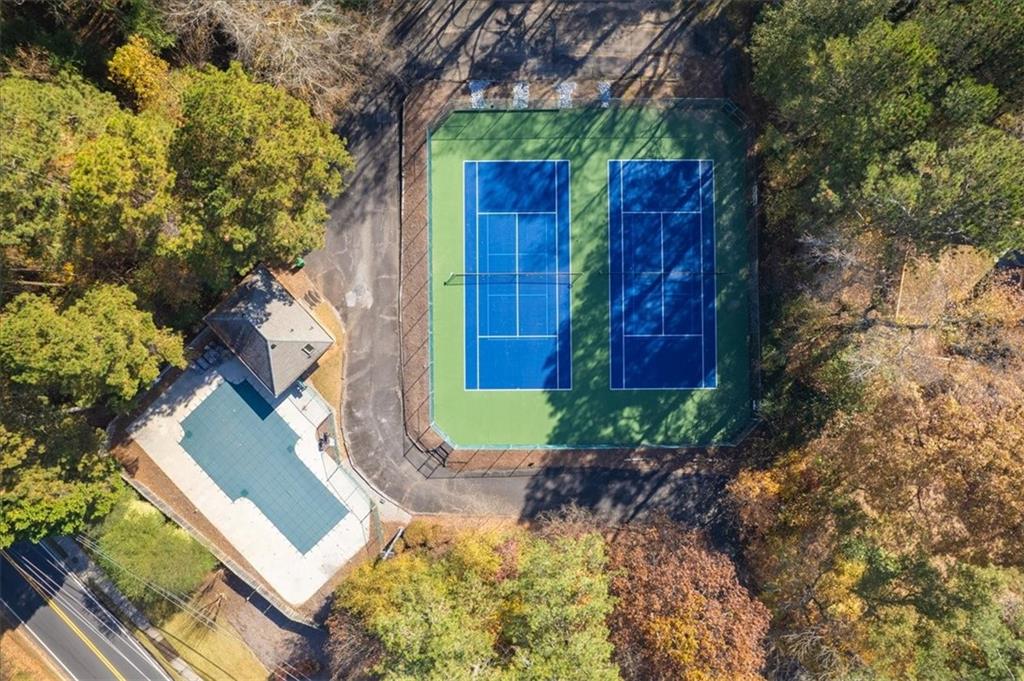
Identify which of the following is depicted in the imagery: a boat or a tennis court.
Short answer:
tennis court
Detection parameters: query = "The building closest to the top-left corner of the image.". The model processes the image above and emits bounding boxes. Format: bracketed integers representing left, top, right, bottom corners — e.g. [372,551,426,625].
[202,263,336,397]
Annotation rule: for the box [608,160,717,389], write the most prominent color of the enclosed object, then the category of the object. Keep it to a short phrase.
blue tennis court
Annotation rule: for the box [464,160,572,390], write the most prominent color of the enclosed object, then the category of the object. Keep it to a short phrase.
blue tennis court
